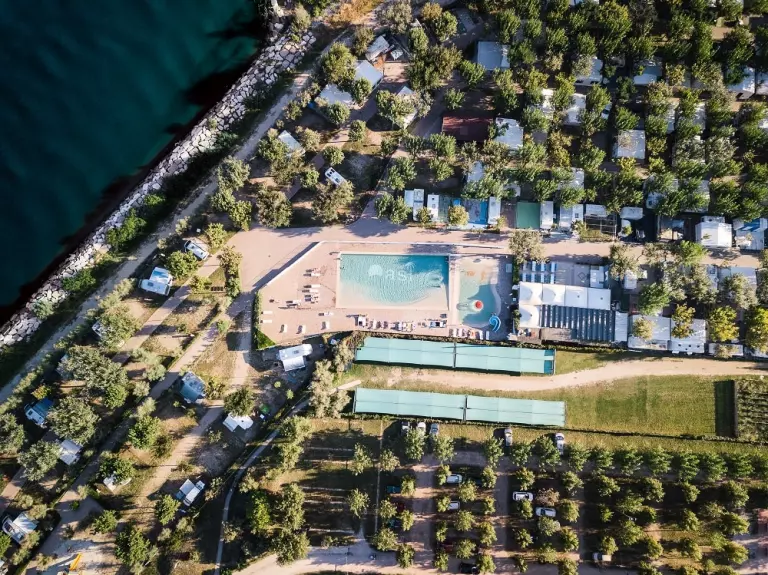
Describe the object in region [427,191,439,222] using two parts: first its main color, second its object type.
white vehicle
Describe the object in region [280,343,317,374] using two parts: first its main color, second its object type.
white camper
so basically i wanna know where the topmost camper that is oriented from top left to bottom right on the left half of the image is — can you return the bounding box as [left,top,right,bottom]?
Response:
[278,131,305,160]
